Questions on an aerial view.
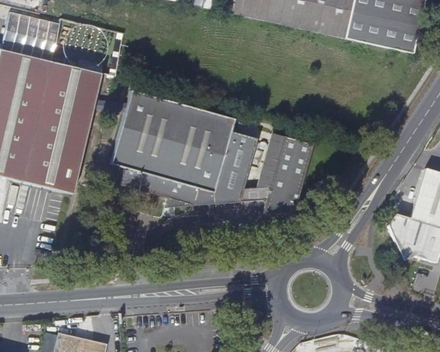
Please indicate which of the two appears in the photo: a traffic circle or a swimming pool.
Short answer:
traffic circle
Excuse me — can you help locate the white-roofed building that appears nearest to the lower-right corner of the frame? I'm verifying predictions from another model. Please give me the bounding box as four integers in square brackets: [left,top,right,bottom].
[388,214,440,264]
